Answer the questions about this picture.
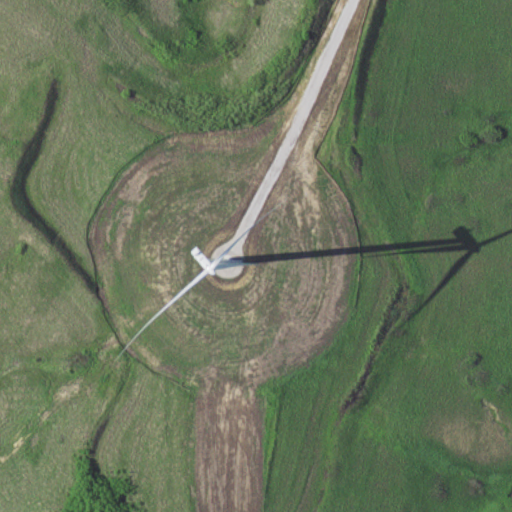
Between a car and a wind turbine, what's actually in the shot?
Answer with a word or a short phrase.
wind turbine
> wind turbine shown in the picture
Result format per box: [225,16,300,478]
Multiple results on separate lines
[114,205,278,366]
